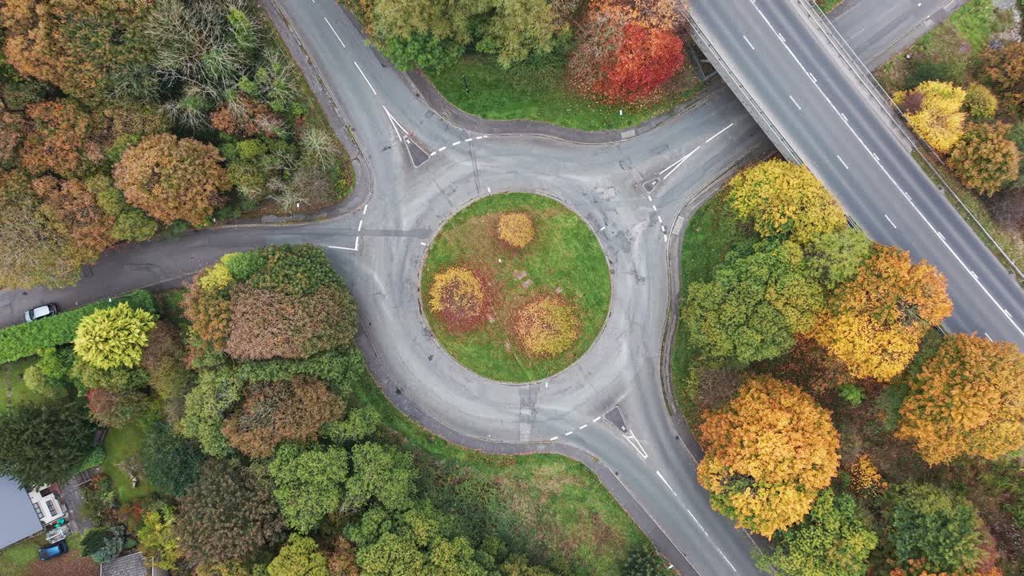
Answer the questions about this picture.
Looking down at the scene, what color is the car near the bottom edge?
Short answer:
blue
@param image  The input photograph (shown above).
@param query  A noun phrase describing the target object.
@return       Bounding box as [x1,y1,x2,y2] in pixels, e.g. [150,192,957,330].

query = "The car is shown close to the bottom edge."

[40,539,72,560]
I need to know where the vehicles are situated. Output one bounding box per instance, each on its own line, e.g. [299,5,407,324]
[40,539,72,560]
[27,302,61,319]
